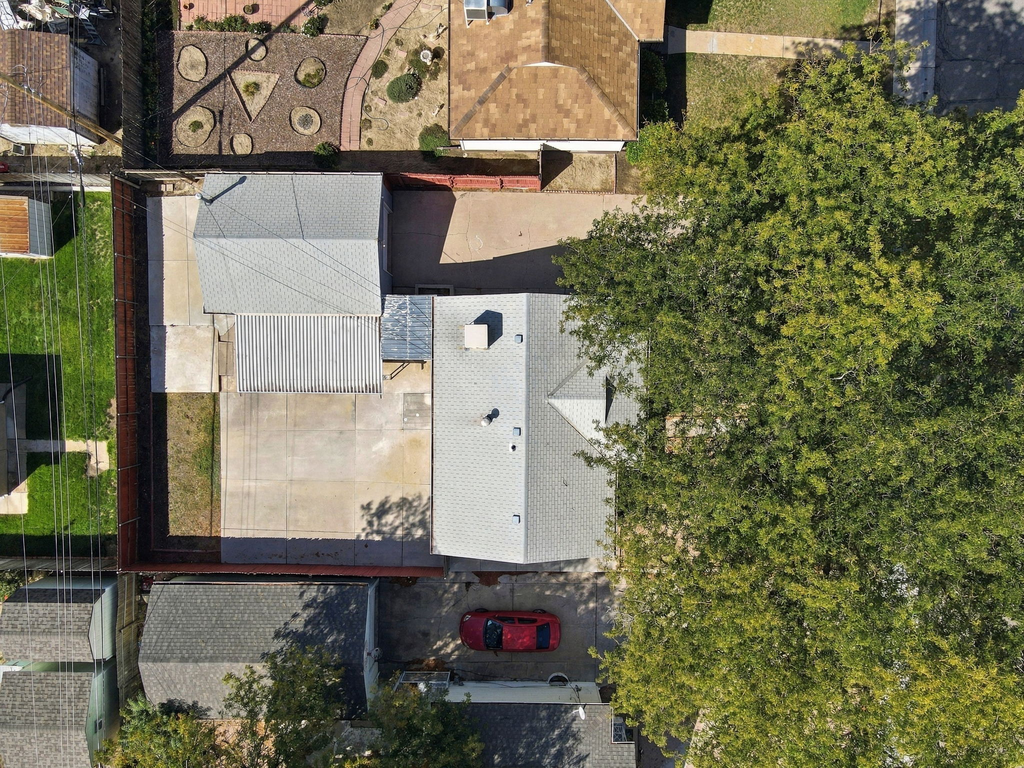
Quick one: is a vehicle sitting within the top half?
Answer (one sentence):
No, no vehicle can be made out within the top half.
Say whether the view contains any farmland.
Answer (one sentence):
No, there's no farmland in this view.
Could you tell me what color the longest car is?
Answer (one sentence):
From above, the longest car appears red.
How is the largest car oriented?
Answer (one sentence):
I'd say the largest car is aligned horizontally in the picture.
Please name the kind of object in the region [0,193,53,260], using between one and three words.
shed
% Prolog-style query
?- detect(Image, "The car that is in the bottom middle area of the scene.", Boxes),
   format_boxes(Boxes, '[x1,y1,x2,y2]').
[459,608,560,658]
